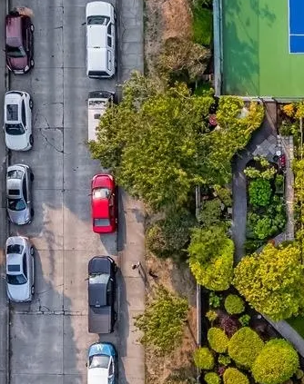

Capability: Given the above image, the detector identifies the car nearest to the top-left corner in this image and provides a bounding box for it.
[2,12,36,74]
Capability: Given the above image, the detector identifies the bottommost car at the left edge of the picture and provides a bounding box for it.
[3,235,37,302]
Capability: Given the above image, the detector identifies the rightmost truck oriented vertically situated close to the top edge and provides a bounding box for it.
[83,2,116,78]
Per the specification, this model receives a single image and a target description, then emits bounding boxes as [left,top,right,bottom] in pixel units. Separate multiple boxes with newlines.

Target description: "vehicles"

[2,164,36,225]
[84,90,117,142]
[3,235,37,302]
[87,174,119,234]
[2,12,36,74]
[83,2,116,78]
[84,256,118,334]
[2,90,35,151]
[84,342,118,384]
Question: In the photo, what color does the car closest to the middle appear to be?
red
